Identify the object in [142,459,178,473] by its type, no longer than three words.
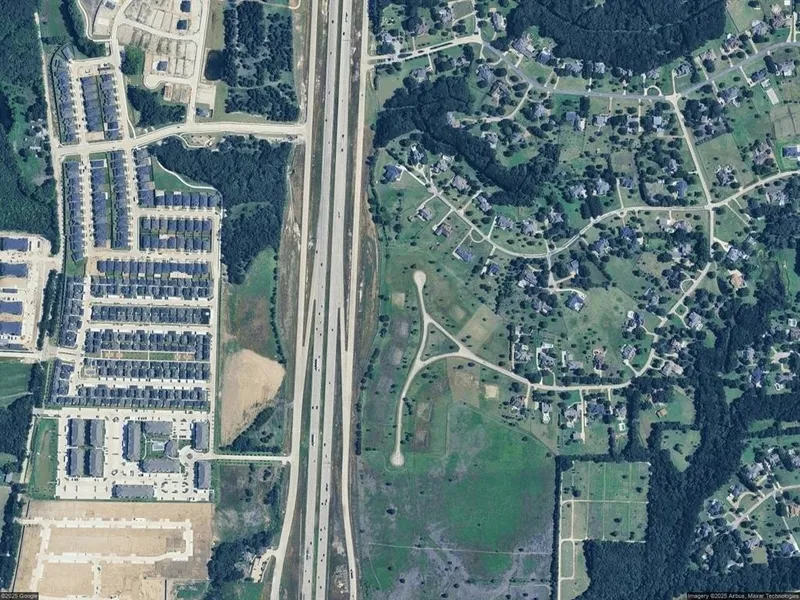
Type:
building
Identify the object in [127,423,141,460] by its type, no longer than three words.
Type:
building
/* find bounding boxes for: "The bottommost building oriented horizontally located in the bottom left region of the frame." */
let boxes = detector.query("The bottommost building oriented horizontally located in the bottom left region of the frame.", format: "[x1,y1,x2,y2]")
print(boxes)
[114,485,153,498]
